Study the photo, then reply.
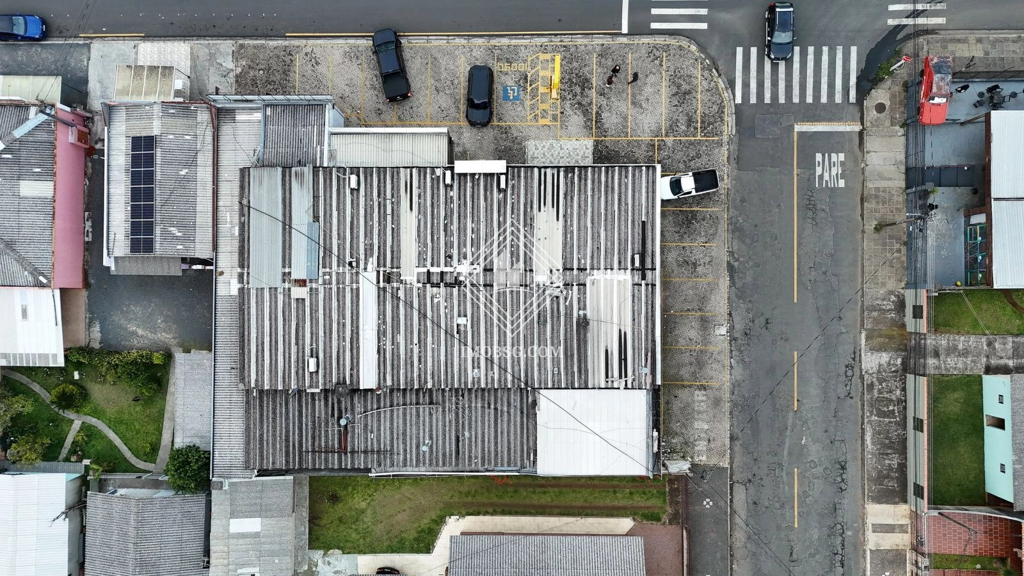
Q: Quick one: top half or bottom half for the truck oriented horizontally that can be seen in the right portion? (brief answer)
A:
top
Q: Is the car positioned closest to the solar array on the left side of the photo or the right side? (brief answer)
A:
left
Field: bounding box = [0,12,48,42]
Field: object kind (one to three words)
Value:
car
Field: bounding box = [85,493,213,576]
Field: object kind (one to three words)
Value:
house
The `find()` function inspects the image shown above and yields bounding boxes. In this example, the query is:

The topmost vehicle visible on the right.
[764,3,796,62]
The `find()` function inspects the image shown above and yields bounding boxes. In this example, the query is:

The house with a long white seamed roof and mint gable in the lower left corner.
[0,459,94,576]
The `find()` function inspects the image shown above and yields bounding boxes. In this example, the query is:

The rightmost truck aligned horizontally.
[661,169,722,201]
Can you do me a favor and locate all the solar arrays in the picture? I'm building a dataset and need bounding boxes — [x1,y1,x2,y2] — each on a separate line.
[130,136,154,254]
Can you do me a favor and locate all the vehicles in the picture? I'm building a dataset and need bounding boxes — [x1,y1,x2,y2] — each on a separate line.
[919,58,952,123]
[0,12,48,42]
[764,3,796,62]
[661,169,722,201]
[373,30,410,104]
[465,65,495,128]
[377,563,401,576]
